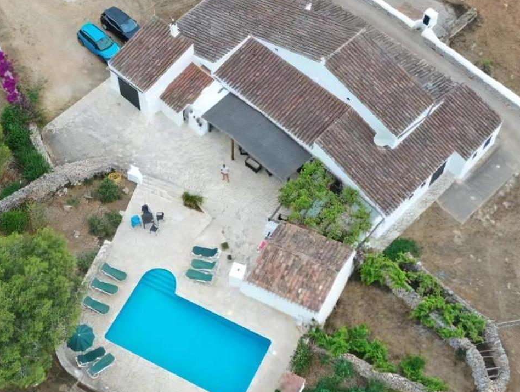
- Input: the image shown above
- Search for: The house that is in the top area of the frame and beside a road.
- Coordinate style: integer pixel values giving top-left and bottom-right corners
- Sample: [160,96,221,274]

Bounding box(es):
[108,0,502,241]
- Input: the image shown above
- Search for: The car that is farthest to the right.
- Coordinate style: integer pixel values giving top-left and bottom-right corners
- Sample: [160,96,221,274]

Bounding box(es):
[101,9,139,46]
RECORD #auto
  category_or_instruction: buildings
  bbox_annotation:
[246,222,355,323]
[108,0,502,241]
